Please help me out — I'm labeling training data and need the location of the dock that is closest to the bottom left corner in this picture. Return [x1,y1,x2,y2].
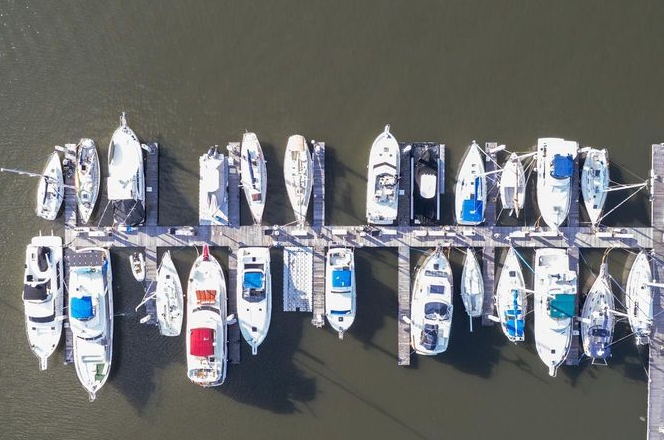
[63,247,75,365]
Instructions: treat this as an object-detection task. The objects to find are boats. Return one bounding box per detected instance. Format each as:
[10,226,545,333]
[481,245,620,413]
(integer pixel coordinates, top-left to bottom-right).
[44,138,102,227]
[579,246,652,370]
[531,140,578,238]
[365,125,401,228]
[234,244,275,355]
[494,245,551,341]
[136,246,187,335]
[281,135,315,230]
[409,244,454,357]
[321,238,359,340]
[239,132,269,228]
[200,149,226,219]
[1,152,68,224]
[458,247,484,332]
[98,112,149,228]
[453,142,507,228]
[24,231,68,371]
[623,247,664,381]
[184,244,230,385]
[27,245,117,401]
[495,148,539,228]
[528,245,576,376]
[577,141,649,229]
[129,251,146,293]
